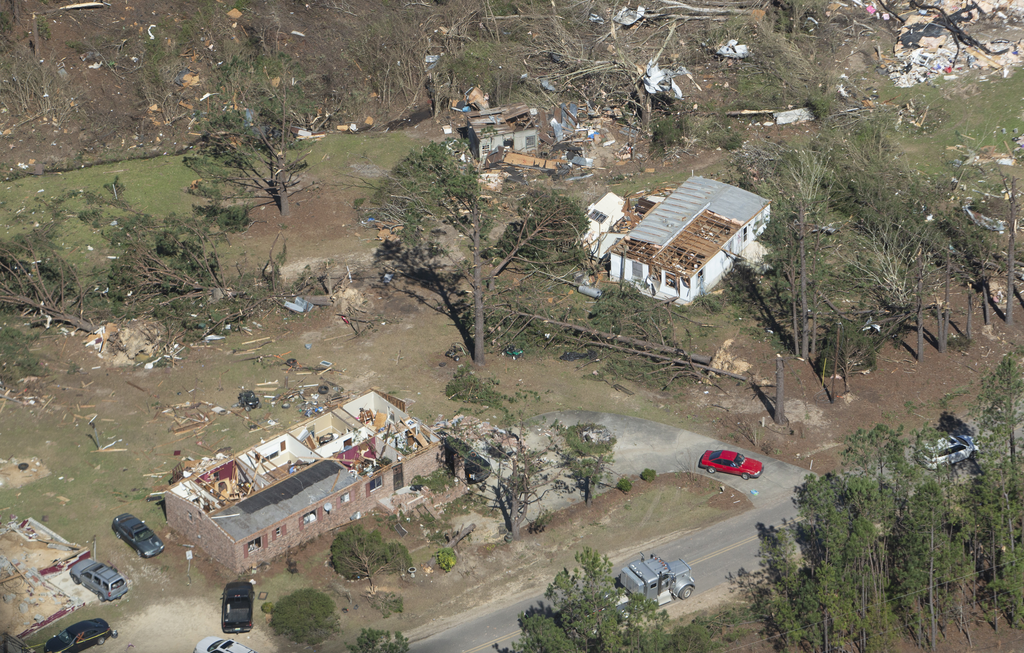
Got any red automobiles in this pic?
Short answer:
Yes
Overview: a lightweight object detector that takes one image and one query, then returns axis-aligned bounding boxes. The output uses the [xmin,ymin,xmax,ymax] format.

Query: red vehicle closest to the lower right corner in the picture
[698,447,766,478]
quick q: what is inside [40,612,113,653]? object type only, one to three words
car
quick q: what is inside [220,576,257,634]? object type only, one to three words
truck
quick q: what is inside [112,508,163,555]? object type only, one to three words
car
